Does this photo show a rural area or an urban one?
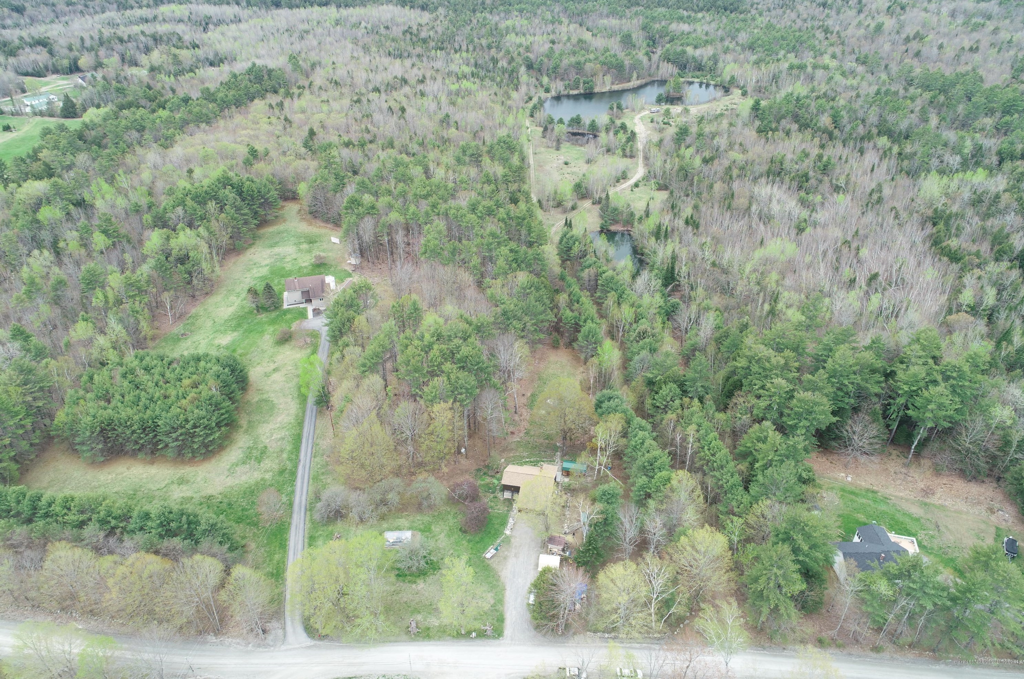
rural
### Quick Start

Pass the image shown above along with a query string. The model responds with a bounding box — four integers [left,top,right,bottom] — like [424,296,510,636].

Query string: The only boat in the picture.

[1006,536,1018,557]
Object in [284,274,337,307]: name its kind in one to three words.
house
